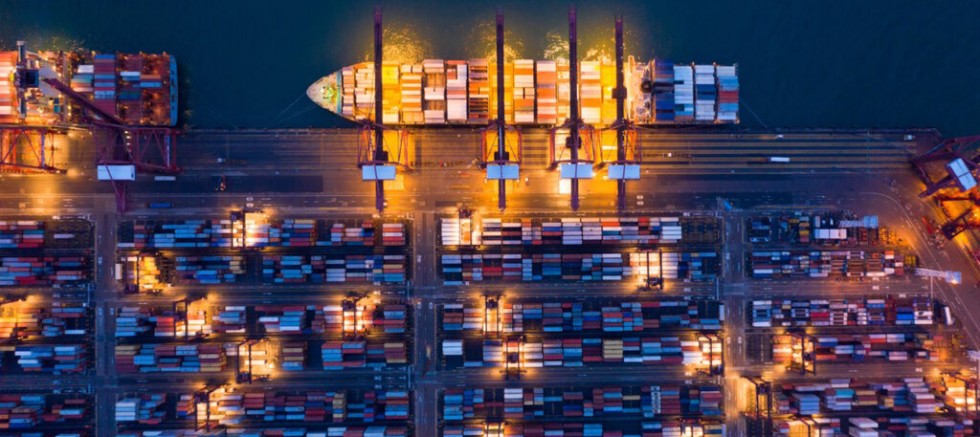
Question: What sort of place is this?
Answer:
port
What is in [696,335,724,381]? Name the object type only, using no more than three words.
container crane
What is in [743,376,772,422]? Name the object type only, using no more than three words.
container crane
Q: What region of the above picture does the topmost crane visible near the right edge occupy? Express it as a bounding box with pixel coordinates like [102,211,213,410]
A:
[908,136,980,198]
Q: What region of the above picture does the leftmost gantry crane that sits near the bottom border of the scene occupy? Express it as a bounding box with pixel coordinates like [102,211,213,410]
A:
[193,381,224,427]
